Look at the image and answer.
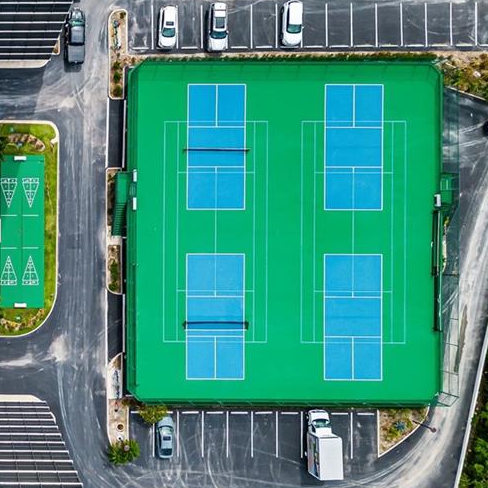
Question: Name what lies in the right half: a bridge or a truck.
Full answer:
It is a truck that can be seen in the right half.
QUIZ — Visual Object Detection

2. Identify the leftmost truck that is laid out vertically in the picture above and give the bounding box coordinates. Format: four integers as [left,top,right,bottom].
[65,9,87,64]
